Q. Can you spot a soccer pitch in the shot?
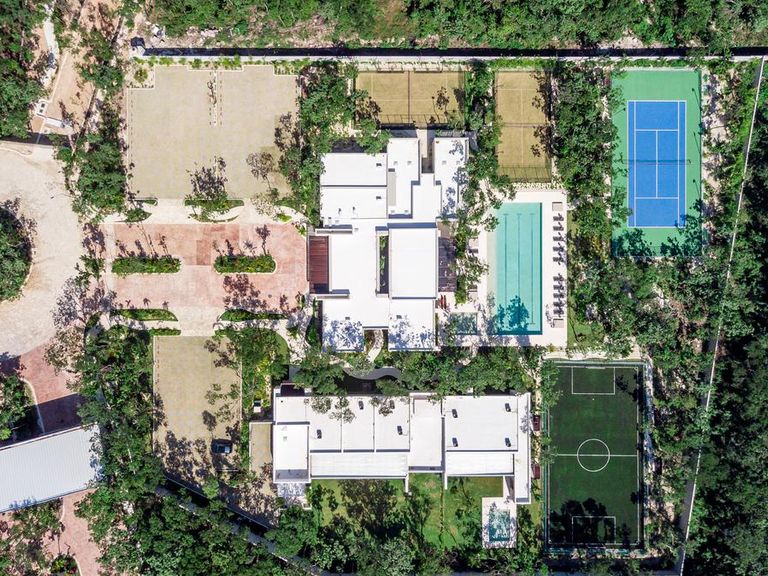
Yes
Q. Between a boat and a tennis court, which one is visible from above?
tennis court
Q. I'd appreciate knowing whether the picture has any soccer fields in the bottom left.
No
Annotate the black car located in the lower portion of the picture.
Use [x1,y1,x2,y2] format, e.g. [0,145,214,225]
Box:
[209,444,232,456]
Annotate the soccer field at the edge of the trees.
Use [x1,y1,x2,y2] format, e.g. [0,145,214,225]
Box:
[545,360,642,547]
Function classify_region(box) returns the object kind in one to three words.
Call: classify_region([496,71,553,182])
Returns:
sports court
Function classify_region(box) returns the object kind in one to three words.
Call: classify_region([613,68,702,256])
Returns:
tennis court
